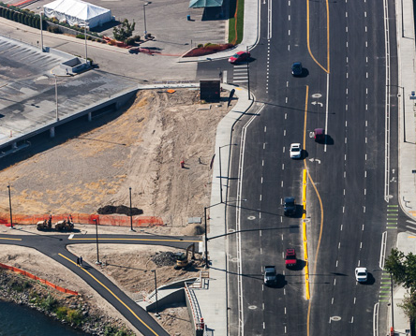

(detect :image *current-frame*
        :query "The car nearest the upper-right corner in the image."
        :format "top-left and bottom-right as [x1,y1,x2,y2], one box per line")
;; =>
[291,60,303,76]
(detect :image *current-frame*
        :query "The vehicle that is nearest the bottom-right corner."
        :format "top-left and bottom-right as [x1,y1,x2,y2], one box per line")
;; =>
[355,270,368,282]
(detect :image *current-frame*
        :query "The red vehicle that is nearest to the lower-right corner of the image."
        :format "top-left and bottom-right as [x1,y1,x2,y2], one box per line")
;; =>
[283,249,297,266]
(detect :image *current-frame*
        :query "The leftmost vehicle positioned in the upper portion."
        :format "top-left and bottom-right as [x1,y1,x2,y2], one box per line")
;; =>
[228,52,250,64]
